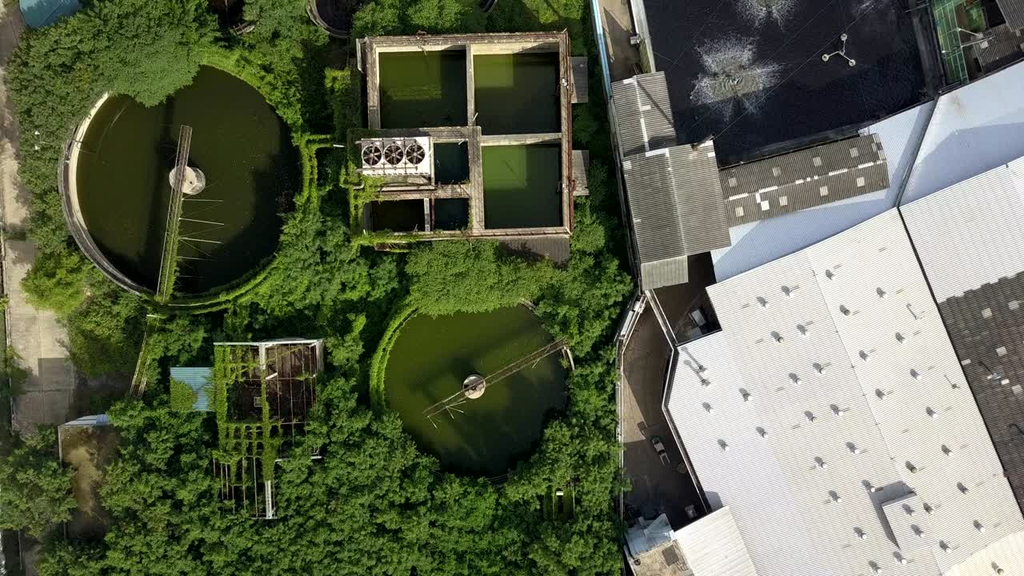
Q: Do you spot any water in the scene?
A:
Yes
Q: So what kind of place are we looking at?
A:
industrial area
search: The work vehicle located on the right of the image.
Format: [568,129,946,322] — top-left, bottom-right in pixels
[648,432,668,464]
